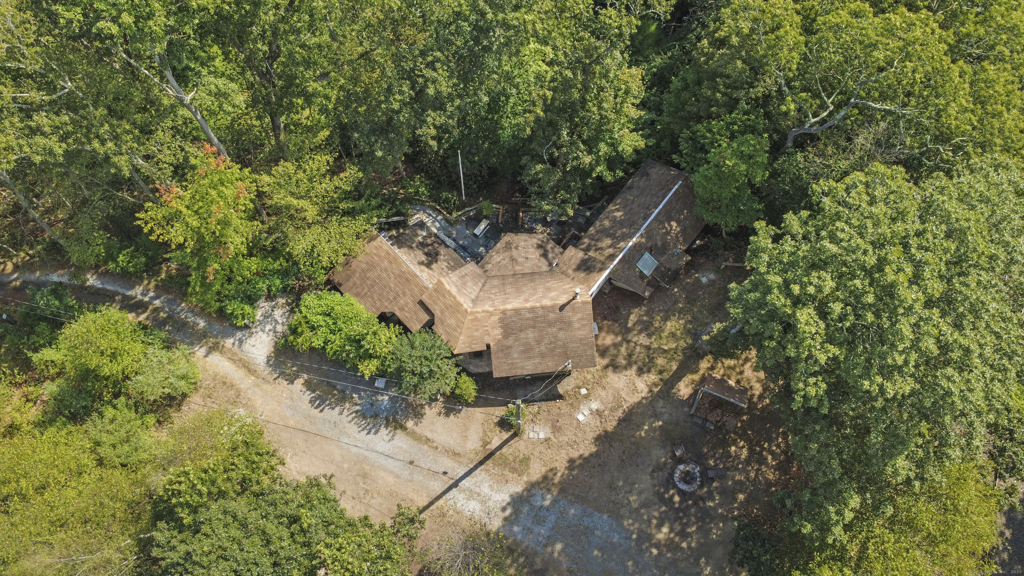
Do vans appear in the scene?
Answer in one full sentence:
No, I can't see a single van in this photo.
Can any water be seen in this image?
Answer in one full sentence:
No, no water is visible.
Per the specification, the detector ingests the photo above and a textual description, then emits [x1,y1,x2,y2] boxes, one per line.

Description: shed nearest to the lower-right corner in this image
[687,372,749,436]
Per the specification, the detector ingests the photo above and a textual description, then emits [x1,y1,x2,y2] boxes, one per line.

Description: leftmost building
[329,159,715,385]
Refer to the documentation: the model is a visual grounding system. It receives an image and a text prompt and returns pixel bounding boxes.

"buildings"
[687,372,749,436]
[329,159,715,385]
